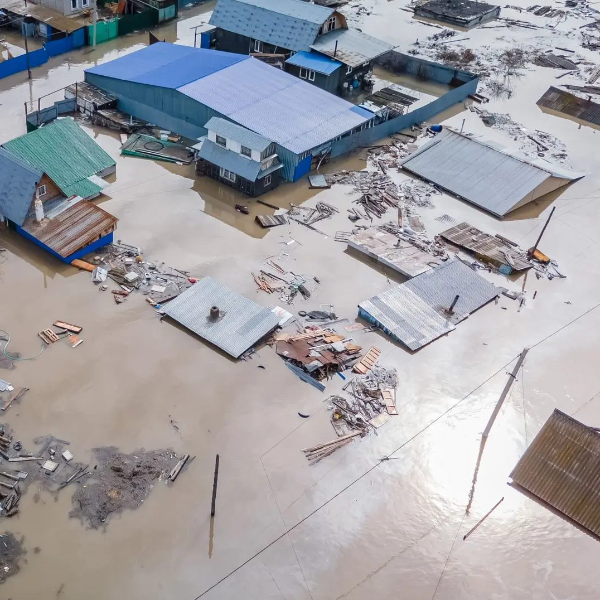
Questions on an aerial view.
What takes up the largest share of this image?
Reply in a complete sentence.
The bulk of the photo consists of water.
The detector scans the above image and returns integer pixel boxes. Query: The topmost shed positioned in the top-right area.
[414,0,501,30]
